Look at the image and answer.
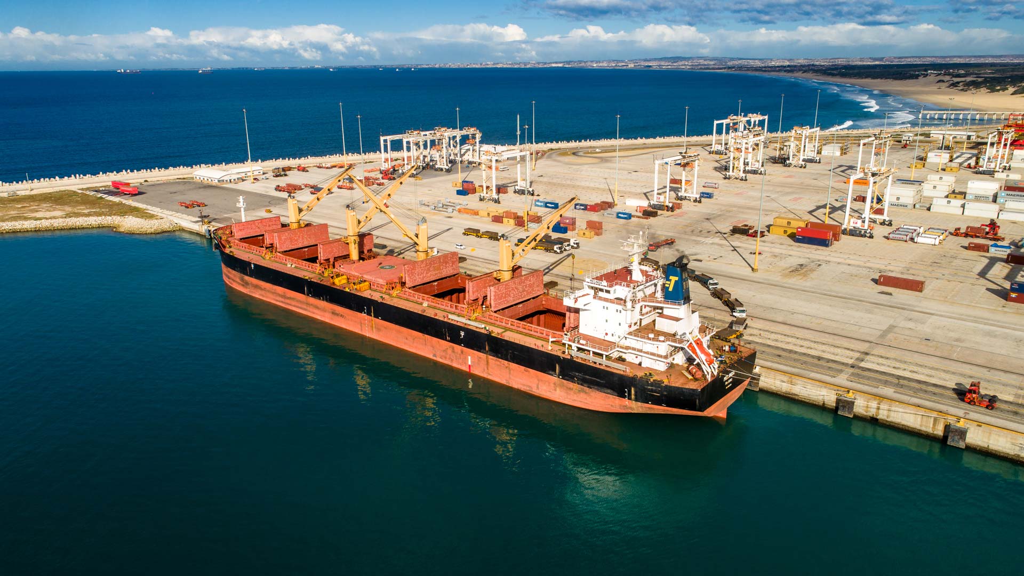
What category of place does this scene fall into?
port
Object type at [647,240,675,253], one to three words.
vehicle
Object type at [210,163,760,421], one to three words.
ship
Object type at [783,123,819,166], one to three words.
container crane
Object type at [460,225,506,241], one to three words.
vehicle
